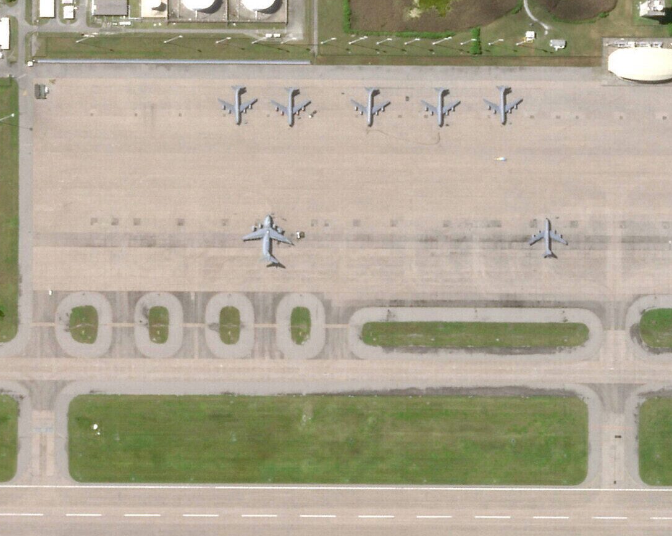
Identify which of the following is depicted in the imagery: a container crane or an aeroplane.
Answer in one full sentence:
There is an aeroplane in the scene.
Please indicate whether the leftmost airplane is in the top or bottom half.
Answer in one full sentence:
The top half of the photo is where the leftmost airplane is.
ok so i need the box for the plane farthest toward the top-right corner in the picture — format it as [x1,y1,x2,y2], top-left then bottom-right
[485,82,523,122]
